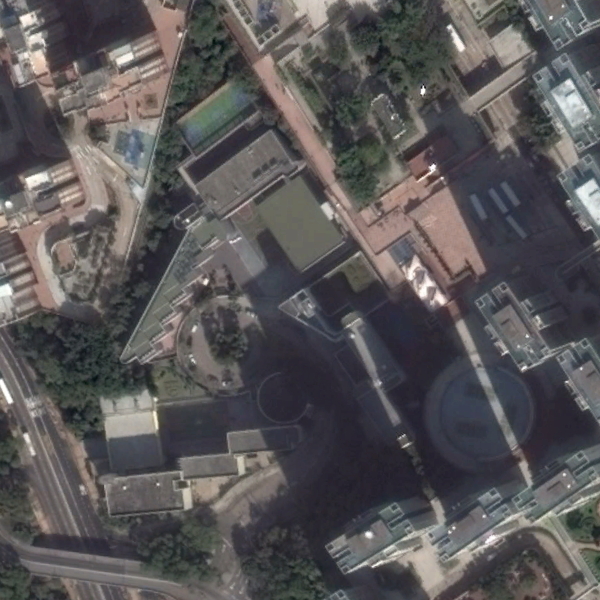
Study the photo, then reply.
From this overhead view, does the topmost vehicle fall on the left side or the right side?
right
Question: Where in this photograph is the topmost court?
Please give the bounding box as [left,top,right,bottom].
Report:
[175,77,259,153]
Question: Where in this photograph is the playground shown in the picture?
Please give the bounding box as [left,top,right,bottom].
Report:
[113,128,154,178]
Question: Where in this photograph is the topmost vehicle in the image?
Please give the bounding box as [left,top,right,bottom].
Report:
[446,25,466,52]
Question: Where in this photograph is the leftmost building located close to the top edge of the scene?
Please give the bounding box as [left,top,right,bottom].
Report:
[0,0,78,86]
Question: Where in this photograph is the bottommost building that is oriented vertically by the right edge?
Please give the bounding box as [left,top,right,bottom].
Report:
[557,333,600,427]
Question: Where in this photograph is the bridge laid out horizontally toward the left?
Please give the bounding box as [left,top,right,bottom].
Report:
[0,527,227,600]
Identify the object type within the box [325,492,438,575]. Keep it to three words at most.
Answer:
building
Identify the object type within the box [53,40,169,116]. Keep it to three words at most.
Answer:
building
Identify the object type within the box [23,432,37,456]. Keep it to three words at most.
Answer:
vehicle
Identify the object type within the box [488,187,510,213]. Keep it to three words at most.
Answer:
bus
